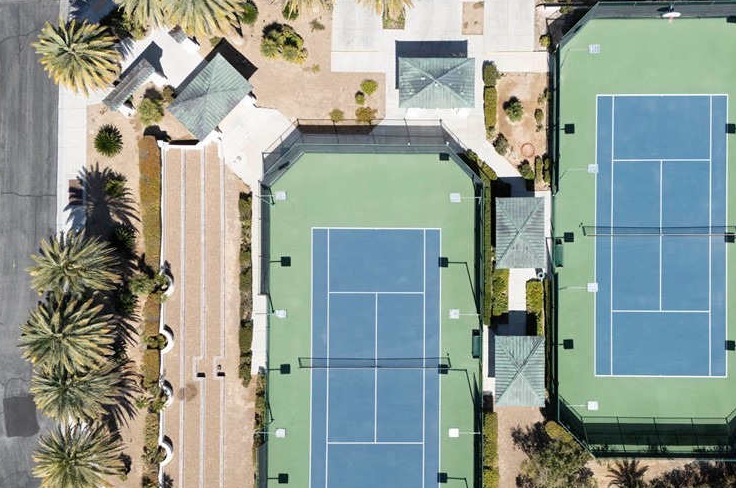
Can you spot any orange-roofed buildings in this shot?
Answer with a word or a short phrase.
No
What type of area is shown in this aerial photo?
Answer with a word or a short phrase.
sports ground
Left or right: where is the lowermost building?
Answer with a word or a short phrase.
right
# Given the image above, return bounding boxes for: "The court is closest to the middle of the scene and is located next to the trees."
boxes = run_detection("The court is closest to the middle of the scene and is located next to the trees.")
[266,153,481,488]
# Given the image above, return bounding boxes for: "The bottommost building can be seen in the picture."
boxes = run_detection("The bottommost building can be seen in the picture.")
[494,336,546,407]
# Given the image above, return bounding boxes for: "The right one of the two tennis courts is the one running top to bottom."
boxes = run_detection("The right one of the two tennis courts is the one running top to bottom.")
[552,15,736,454]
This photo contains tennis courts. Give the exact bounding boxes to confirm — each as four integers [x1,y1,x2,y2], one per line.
[552,15,736,454]
[266,153,481,488]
